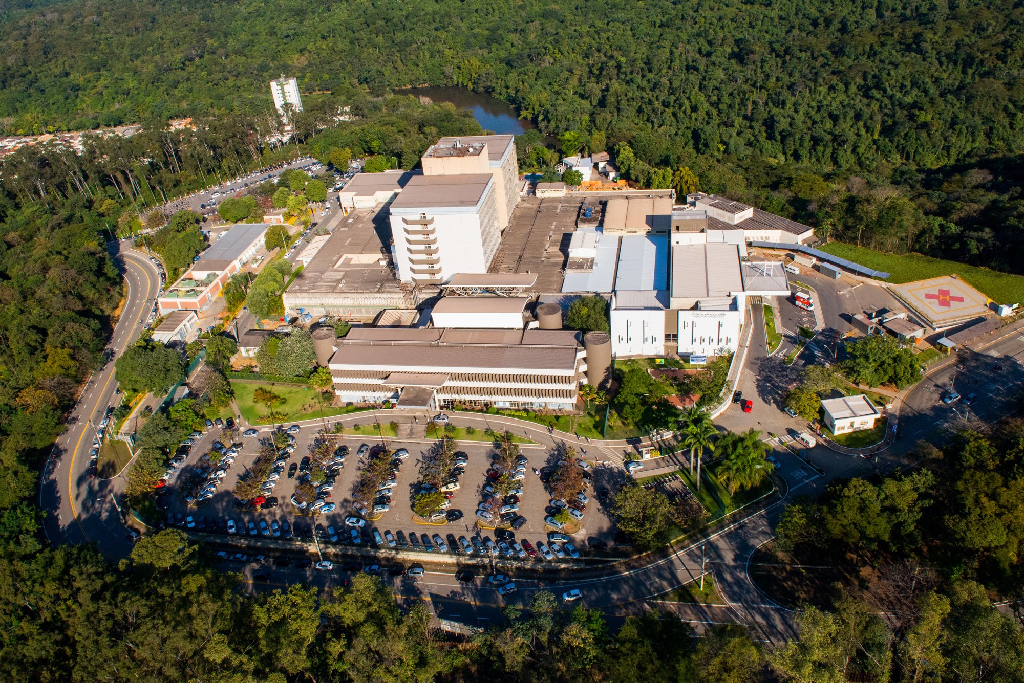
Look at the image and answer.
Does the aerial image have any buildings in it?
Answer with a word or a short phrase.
Yes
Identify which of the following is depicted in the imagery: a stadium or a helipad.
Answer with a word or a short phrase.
helipad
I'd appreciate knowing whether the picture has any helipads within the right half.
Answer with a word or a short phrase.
Yes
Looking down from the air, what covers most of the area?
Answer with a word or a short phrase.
trees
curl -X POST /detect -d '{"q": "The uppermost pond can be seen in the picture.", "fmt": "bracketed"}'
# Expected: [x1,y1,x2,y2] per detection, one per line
[412,84,542,151]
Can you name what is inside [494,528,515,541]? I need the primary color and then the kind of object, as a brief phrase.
black vehicle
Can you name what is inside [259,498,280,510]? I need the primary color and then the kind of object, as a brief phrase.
black vehicle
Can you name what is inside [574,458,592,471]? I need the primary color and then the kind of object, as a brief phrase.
gray vehicle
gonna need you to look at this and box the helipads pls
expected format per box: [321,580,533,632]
[887,274,997,331]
